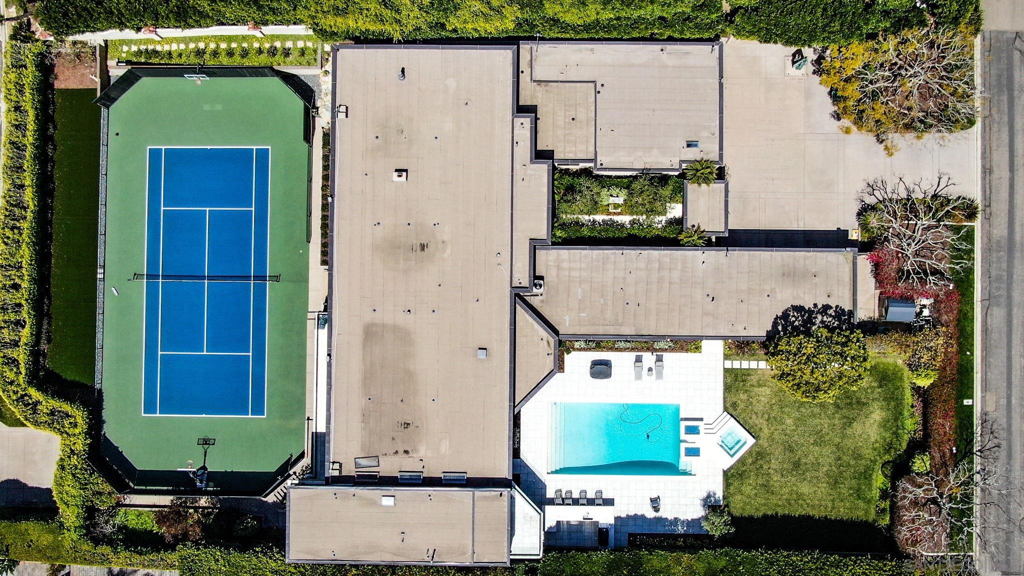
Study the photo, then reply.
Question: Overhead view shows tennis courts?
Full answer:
Yes, the frame does contain a tennis court.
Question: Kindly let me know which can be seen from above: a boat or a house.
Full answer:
Visible in the photo is a house.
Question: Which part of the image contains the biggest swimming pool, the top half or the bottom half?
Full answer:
The biggest swimming pool is in the bottom half of the image.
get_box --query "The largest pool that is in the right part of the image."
[545,399,698,479]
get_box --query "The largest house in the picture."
[286,41,857,566]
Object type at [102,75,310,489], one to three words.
tennis court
